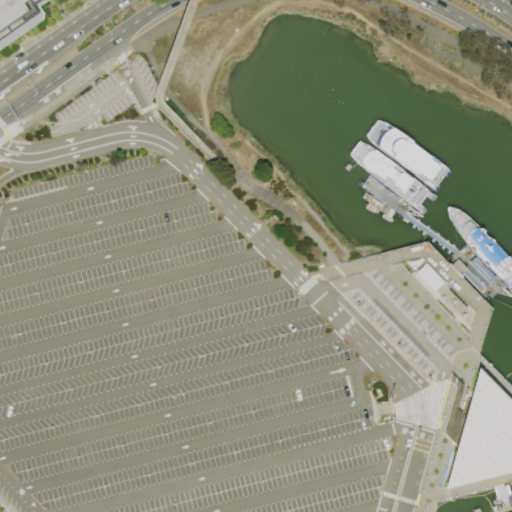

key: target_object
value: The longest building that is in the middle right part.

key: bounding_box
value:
[417,262,445,292]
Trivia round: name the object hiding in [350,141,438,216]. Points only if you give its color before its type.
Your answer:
white ship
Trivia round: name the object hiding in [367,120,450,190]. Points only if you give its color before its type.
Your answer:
white ship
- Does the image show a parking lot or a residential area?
parking lot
